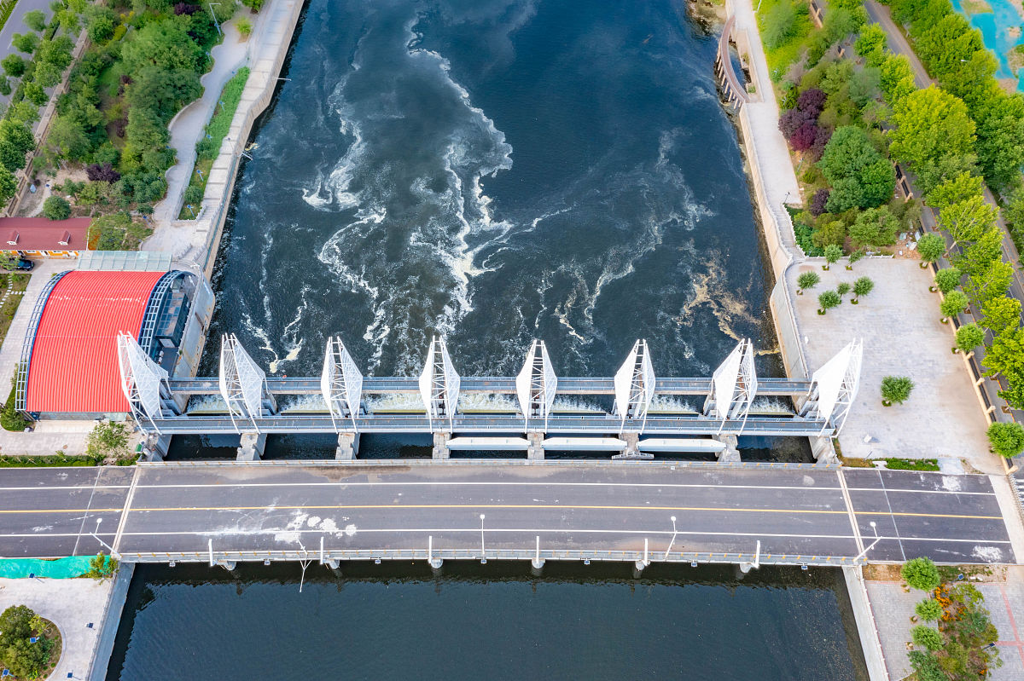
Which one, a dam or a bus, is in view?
dam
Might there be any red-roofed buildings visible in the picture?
Yes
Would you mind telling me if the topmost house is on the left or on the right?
left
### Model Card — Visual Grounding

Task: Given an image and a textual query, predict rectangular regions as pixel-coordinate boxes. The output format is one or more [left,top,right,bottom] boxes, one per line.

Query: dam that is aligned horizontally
[124,375,835,463]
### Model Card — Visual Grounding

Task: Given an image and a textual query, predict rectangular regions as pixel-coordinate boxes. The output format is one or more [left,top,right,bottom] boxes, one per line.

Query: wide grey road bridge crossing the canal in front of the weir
[109,457,867,577]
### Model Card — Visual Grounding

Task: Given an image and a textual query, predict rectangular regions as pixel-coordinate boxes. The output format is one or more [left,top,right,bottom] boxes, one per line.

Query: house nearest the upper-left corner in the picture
[0,216,102,259]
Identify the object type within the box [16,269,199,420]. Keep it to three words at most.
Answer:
building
